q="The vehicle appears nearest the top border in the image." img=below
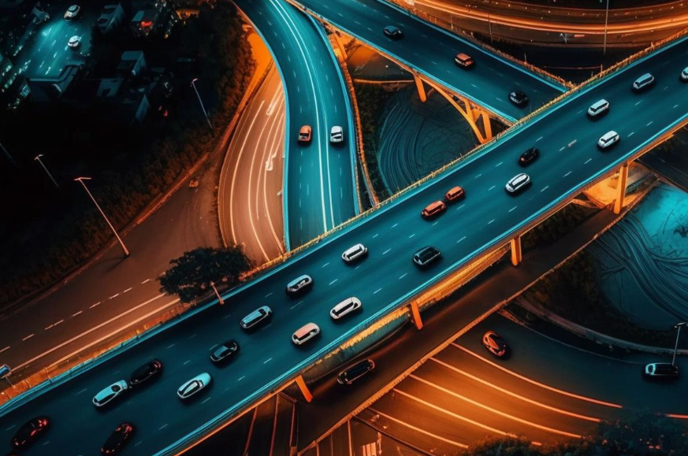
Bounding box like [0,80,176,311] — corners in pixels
[61,1,82,20]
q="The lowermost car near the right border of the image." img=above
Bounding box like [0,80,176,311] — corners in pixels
[644,360,680,379]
